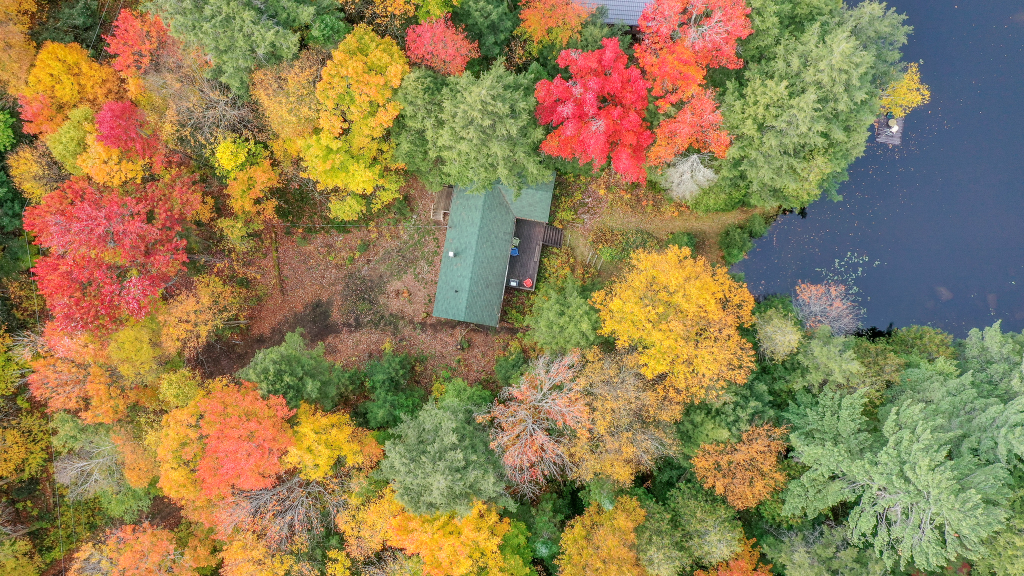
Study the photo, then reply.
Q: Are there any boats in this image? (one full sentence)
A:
No, there isn't any boat down there.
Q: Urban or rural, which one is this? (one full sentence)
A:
This place is rural.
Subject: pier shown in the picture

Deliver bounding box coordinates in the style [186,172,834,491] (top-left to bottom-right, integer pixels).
[873,105,905,145]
